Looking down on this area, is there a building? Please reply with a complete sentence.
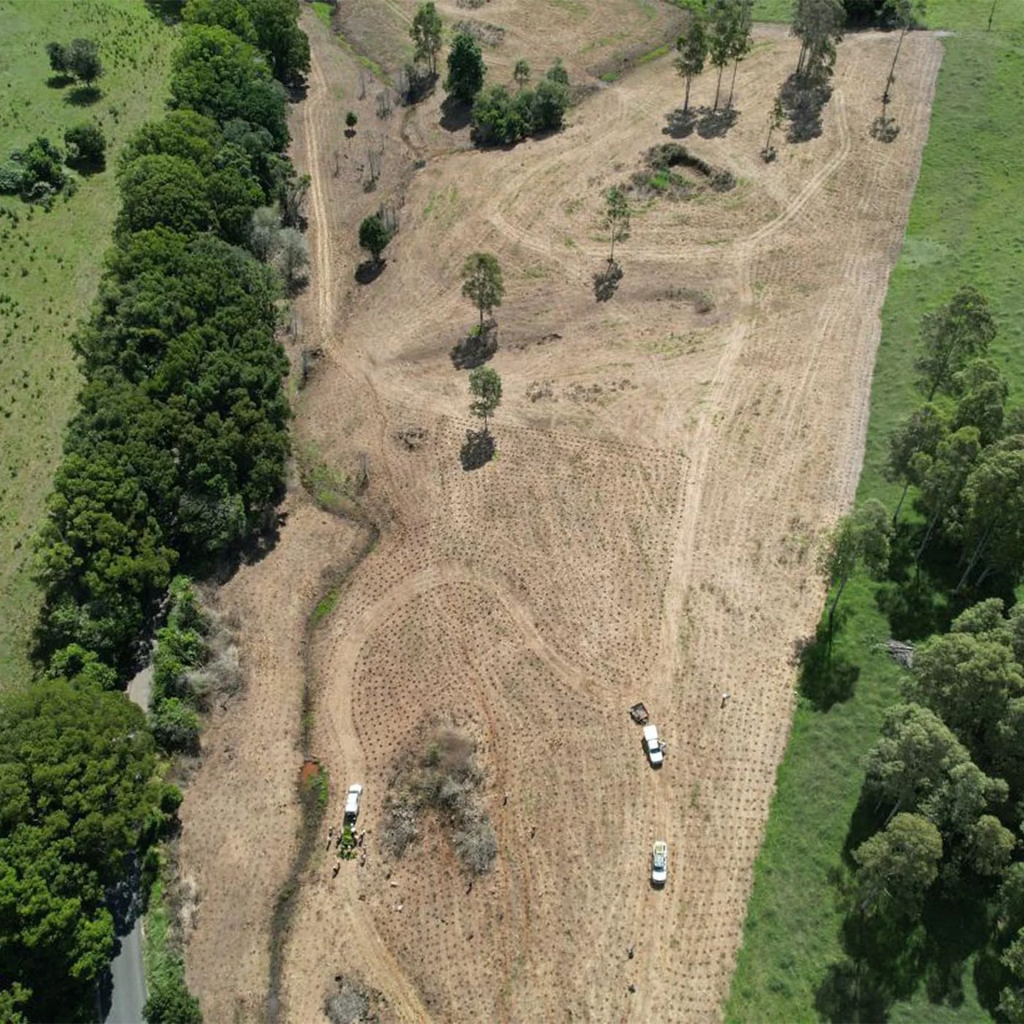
No, there isn't any building down there.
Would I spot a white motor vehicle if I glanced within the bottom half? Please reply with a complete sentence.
Yes, a white motor vehicle shows up within the bottom half.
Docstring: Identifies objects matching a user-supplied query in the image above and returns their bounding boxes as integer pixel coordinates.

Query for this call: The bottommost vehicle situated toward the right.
[651,842,669,885]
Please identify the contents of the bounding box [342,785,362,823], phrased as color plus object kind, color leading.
white vehicle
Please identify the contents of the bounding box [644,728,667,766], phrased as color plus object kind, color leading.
white truck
